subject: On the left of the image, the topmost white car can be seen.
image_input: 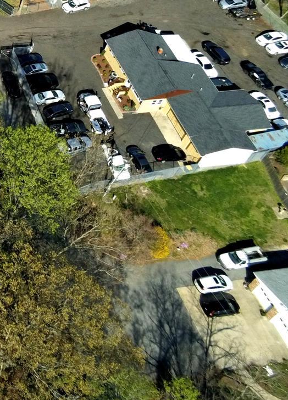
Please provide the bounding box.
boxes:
[62,0,92,14]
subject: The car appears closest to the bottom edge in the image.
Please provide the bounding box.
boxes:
[196,292,244,316]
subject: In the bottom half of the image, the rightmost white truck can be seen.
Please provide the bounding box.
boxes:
[214,247,268,269]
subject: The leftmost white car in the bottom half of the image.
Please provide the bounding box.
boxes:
[188,273,236,295]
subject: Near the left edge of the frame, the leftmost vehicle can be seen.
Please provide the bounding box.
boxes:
[0,70,22,100]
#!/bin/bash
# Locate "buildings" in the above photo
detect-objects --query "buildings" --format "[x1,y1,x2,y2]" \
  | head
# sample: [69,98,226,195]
[241,267,288,364]
[101,30,273,171]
